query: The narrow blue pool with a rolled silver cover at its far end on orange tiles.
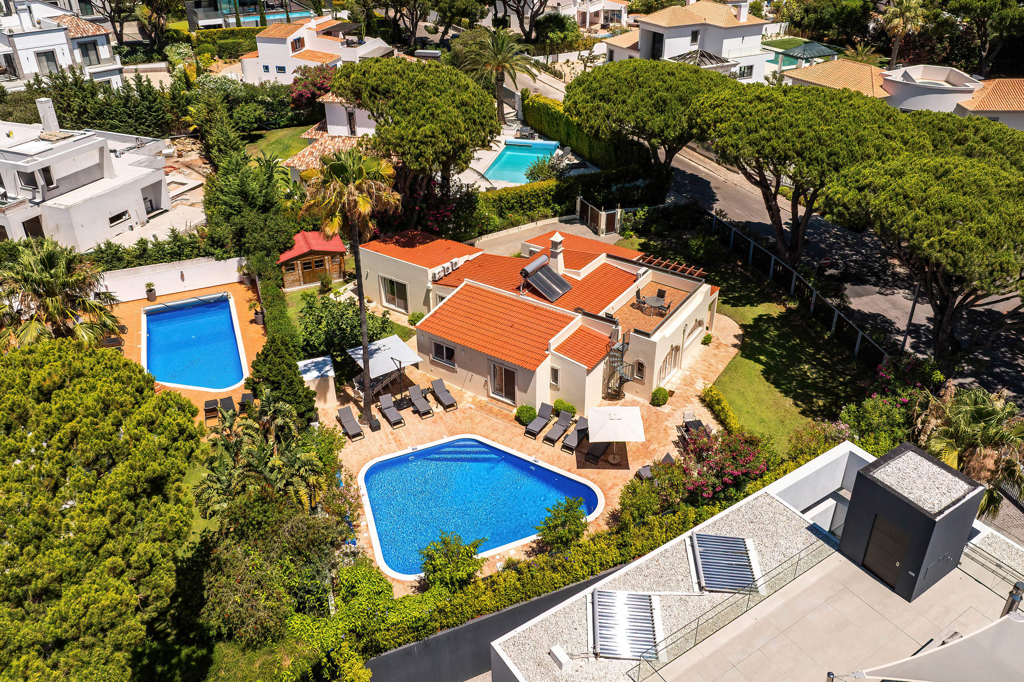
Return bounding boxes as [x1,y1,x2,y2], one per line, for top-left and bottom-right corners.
[141,297,247,390]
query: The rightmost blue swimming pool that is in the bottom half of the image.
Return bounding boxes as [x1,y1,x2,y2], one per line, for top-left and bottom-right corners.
[357,428,603,576]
